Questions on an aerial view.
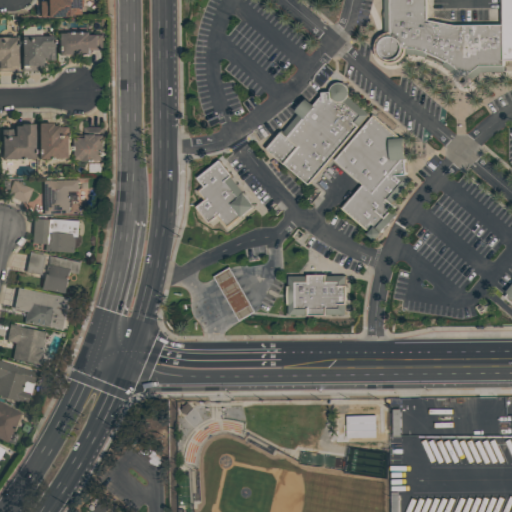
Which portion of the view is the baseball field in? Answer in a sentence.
Look in the bottom portion of the view to spot the baseball field.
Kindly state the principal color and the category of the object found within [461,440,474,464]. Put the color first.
white vehicle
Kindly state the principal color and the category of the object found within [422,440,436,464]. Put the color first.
white vehicle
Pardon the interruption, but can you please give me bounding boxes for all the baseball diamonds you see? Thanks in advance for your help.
[196,430,388,512]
